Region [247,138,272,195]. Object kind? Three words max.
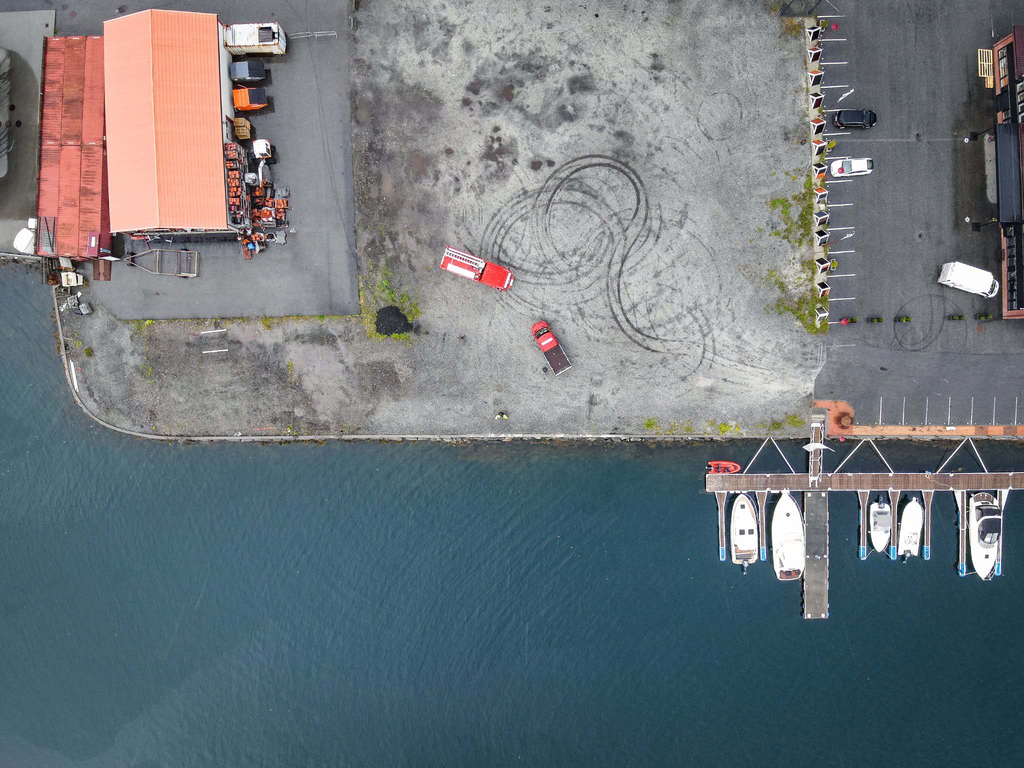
work vehicle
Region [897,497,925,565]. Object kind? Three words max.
boat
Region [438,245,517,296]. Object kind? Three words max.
truck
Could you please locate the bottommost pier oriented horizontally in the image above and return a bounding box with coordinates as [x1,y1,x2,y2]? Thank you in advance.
[706,472,1024,492]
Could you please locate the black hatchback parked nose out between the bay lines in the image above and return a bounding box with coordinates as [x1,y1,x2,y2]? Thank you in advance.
[835,106,879,128]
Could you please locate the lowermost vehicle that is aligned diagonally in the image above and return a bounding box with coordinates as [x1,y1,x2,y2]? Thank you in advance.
[531,321,574,378]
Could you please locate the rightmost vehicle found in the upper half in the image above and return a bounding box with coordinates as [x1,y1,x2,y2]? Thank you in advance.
[926,261,1000,301]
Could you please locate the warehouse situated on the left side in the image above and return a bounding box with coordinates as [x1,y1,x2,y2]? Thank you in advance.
[102,7,242,239]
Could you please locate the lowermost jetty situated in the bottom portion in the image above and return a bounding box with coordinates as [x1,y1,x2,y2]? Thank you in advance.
[800,490,830,618]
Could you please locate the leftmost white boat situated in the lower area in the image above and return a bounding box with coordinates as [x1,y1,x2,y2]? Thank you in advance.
[729,495,758,573]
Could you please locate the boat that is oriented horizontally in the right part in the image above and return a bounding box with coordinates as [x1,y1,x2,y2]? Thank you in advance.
[702,461,741,473]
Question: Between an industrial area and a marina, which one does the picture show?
marina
